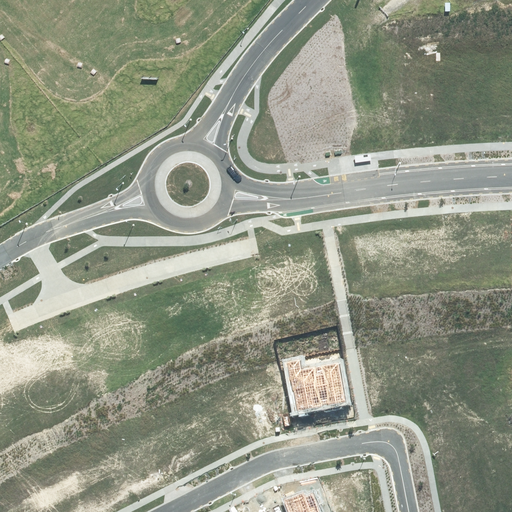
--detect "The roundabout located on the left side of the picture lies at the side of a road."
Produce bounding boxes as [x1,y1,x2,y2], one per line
[140,136,236,232]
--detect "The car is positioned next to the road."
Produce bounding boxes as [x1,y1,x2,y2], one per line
[226,166,240,181]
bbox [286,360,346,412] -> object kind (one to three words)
house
